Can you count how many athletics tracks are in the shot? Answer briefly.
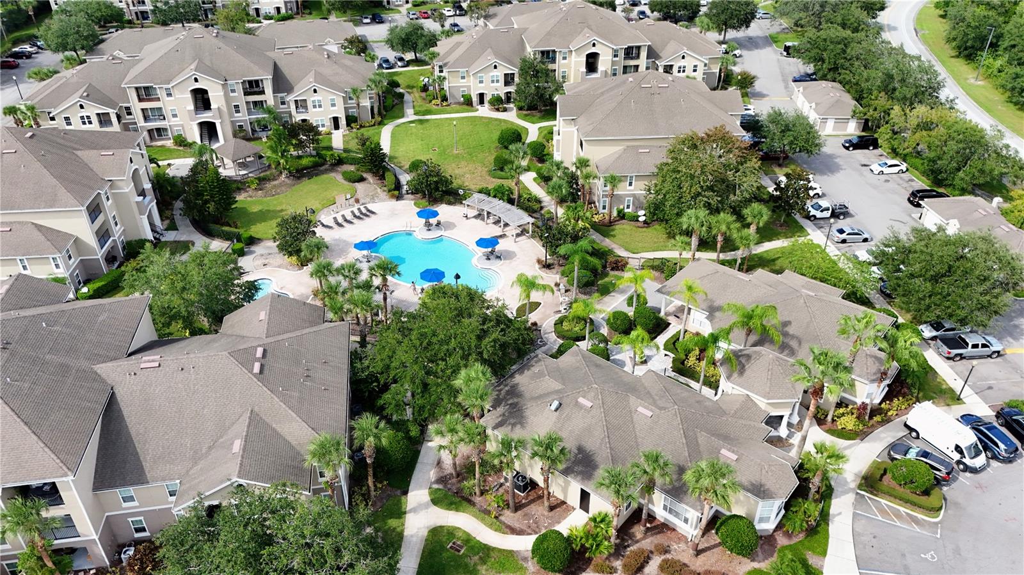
0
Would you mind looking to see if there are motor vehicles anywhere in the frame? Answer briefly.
Yes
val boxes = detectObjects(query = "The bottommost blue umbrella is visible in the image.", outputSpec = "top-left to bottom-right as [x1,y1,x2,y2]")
[417,269,449,292]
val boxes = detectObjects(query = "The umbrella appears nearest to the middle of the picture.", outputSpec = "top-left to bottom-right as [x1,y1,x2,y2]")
[474,238,501,251]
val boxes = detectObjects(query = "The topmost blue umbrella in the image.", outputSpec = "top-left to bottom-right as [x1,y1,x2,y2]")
[414,210,440,224]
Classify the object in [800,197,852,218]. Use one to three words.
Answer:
truck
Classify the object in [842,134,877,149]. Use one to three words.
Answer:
car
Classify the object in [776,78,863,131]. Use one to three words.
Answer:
building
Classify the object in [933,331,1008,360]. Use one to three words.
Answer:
truck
